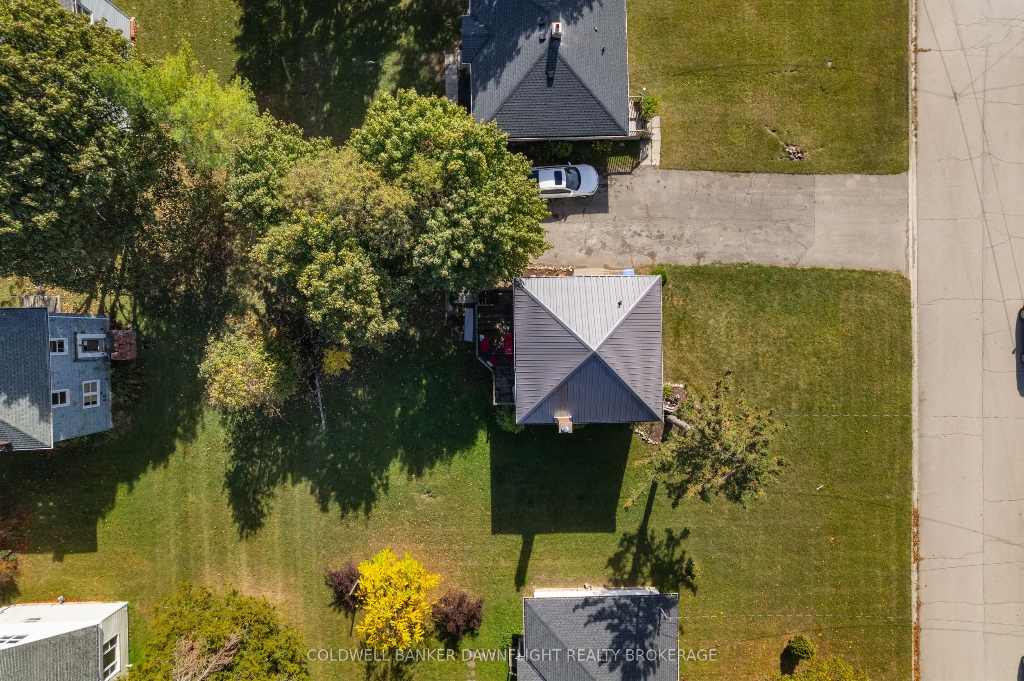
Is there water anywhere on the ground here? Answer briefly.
No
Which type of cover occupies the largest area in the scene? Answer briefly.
grass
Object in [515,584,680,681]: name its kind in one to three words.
house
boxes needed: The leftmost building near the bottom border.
[0,602,130,681]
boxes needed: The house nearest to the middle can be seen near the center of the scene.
[514,274,664,434]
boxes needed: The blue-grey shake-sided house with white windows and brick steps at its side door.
[0,304,114,451]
